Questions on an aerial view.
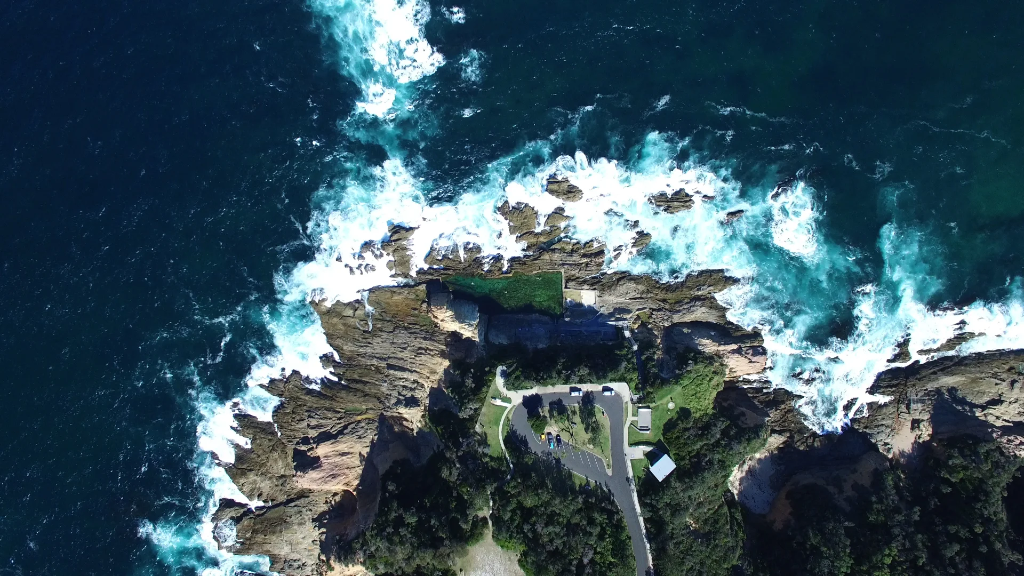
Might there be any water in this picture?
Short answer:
Yes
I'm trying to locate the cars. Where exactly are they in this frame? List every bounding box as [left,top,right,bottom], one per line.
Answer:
[547,433,554,448]
[556,435,563,448]
[540,433,546,442]
[603,390,615,396]
[570,391,583,396]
